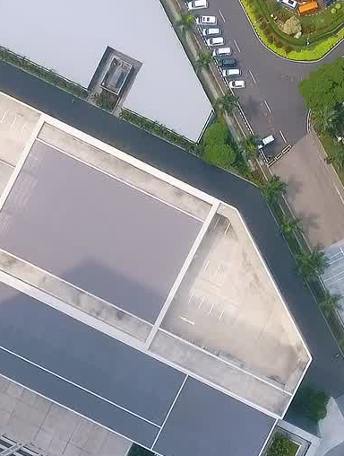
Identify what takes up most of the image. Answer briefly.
buildings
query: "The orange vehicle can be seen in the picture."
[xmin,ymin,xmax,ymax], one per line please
[298,0,319,16]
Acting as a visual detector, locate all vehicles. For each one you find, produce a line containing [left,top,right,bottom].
[230,81,245,90]
[259,134,276,148]
[220,57,238,67]
[298,0,319,16]
[278,0,298,10]
[189,0,207,10]
[204,27,221,37]
[214,47,232,57]
[198,15,216,26]
[224,68,241,77]
[208,37,224,47]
